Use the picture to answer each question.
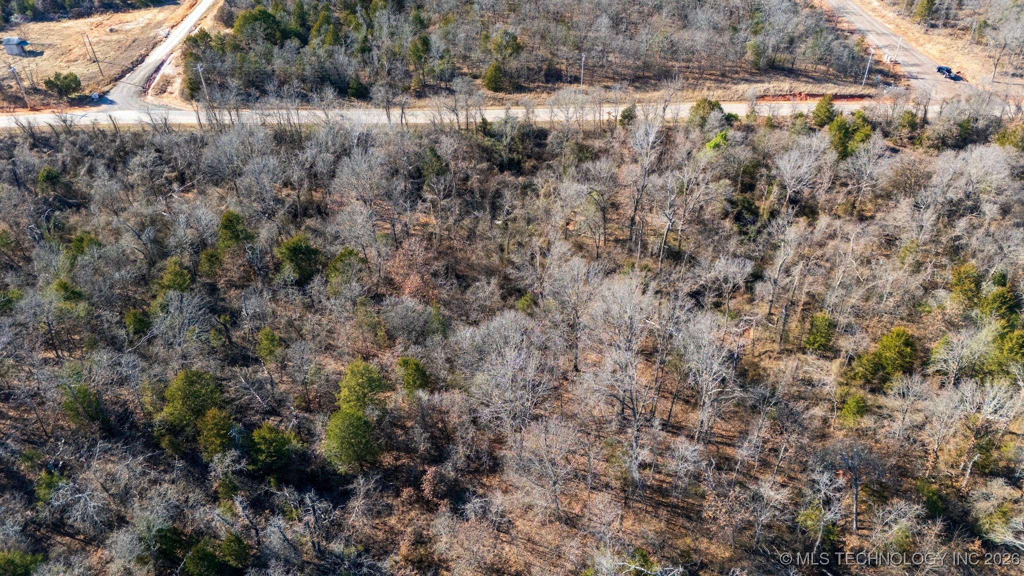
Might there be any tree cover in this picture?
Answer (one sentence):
Yes, tree cover can be seen from above here.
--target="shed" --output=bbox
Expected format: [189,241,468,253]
[4,40,38,56]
